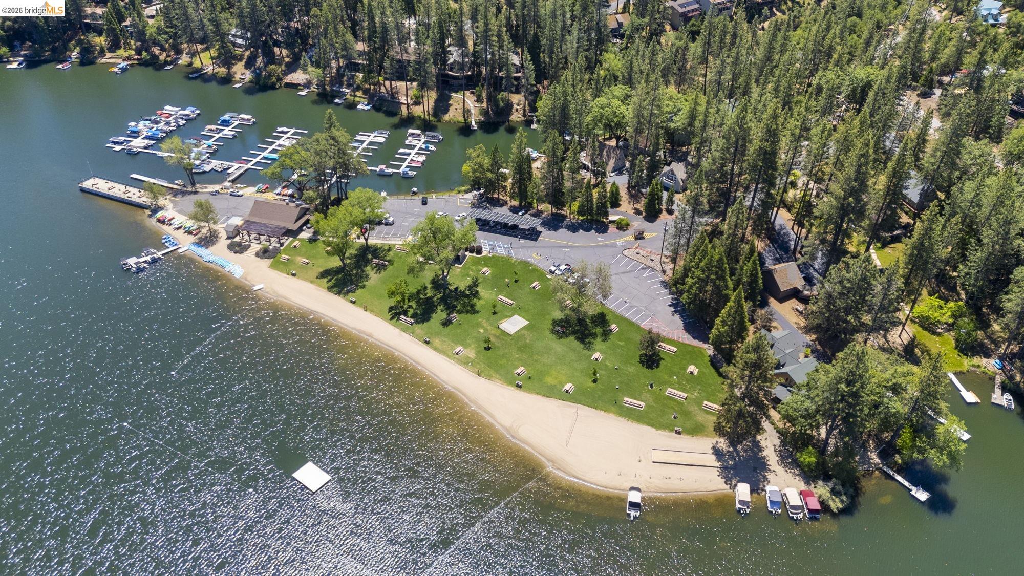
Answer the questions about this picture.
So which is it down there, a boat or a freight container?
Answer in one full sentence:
There is a boat in the scene.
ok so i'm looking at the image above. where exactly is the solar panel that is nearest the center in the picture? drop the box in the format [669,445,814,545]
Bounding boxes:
[468,207,542,229]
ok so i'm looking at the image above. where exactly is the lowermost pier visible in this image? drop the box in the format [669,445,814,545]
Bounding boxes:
[880,465,931,502]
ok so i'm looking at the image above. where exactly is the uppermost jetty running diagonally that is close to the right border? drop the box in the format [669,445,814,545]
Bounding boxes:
[947,373,980,404]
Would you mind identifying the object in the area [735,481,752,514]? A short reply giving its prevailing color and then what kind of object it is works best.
white boat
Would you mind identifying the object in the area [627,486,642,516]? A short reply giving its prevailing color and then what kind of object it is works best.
white boat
